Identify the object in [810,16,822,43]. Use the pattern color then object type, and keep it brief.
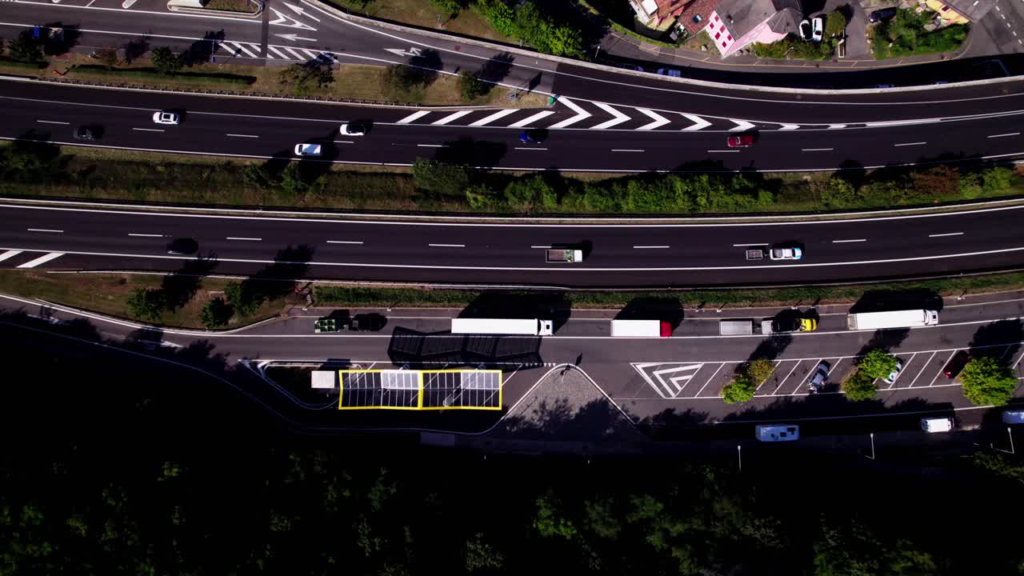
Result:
white vehicle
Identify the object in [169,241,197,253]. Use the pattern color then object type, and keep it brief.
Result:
black vehicle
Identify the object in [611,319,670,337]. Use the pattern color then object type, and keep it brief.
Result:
white vehicle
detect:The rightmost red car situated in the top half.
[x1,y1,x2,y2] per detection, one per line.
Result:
[727,134,754,147]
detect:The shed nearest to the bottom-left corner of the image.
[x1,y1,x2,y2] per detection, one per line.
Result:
[312,370,338,388]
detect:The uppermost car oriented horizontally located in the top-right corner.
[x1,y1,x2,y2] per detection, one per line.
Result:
[868,7,896,23]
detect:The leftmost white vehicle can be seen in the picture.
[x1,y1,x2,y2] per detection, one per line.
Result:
[153,111,180,125]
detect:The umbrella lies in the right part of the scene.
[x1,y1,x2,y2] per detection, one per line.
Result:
[935,11,949,24]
